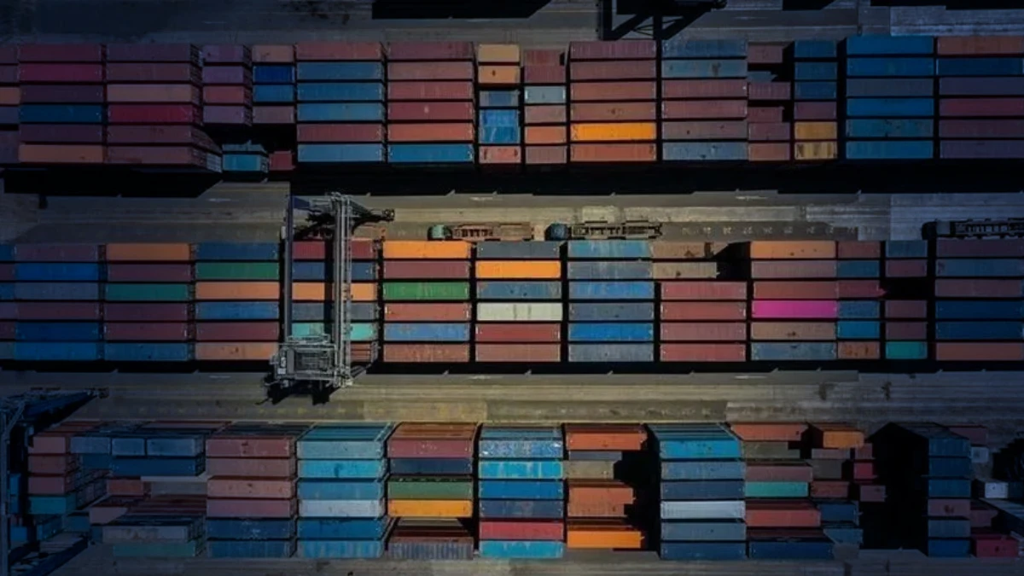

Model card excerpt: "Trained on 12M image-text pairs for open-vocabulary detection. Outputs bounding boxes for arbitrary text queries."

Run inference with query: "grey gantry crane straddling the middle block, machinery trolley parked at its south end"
[261,195,398,394]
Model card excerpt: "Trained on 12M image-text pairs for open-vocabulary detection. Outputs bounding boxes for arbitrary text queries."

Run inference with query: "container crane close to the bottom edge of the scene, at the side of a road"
[0,383,112,576]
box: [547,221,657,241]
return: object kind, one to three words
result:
vehicle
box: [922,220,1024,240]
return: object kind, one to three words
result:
vehicle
